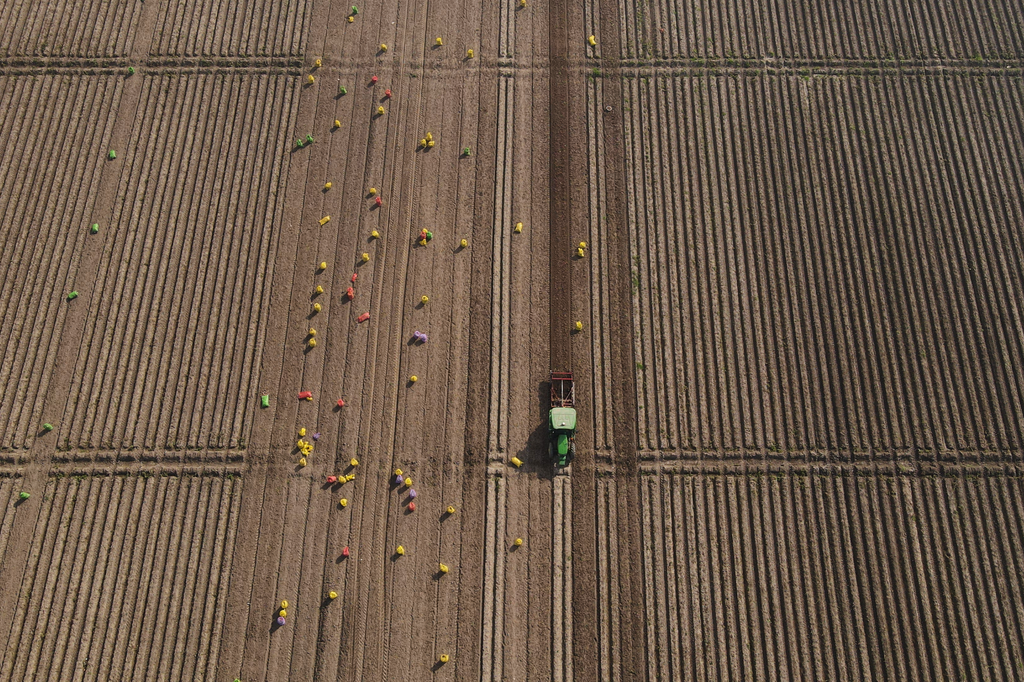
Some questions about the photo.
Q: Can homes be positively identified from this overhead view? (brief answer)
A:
No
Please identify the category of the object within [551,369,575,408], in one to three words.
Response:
work vehicle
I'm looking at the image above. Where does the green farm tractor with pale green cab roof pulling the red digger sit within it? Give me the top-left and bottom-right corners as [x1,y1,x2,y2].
[549,407,580,466]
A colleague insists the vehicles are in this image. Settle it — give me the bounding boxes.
[549,407,580,466]
[551,369,575,408]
